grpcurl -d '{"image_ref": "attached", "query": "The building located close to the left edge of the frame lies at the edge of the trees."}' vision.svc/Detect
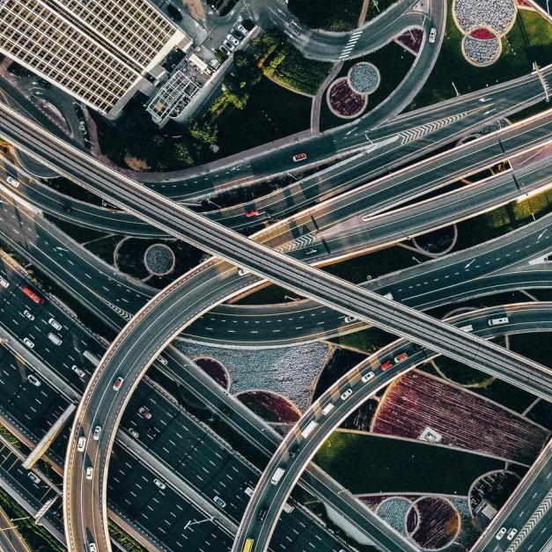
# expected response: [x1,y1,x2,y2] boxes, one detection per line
[0,0,197,128]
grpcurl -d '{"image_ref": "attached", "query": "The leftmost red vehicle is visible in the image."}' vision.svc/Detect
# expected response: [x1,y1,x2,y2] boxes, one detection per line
[22,287,40,302]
